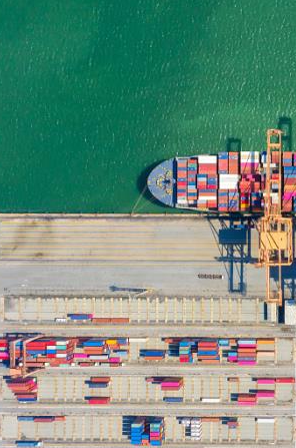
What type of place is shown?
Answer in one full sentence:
It's a port.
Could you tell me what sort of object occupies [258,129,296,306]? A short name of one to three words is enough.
container crane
